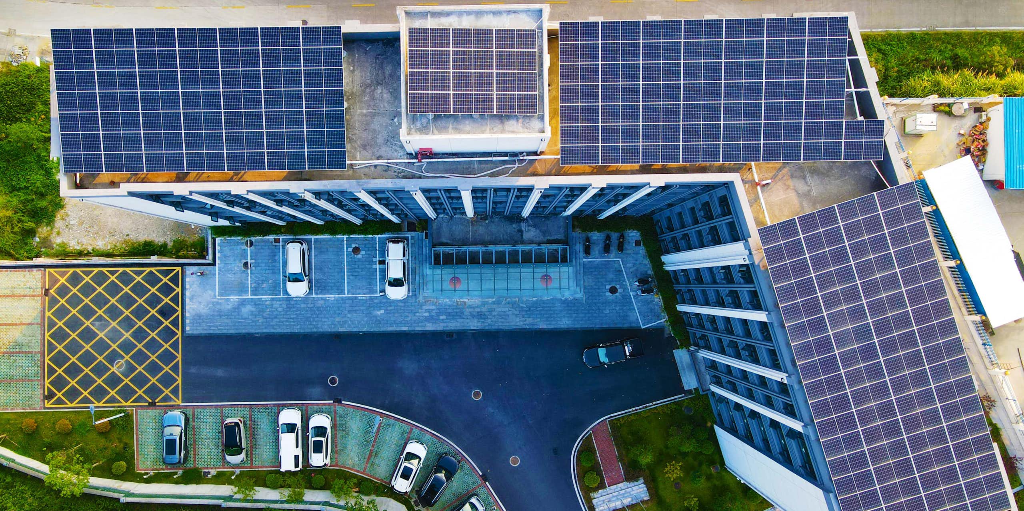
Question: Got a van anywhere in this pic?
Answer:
Yes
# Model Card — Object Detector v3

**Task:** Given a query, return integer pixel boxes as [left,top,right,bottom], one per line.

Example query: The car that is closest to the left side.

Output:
[161,408,193,468]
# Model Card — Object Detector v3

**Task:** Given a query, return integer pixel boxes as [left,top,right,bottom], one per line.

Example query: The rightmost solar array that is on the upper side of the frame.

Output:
[557,17,883,165]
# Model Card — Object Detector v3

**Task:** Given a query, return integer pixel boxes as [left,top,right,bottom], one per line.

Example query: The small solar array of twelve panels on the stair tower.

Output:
[407,27,538,115]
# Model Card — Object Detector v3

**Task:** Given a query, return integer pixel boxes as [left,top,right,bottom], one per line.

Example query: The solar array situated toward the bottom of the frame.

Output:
[757,182,1012,511]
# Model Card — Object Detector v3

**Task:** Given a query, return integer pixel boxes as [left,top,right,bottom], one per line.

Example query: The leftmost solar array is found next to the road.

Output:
[51,27,348,173]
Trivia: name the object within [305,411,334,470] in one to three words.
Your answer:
car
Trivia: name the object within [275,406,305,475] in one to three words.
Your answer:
van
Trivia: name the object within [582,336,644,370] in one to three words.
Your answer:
truck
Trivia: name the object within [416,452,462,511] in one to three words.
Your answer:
car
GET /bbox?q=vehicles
[383,238,410,301]
[161,408,193,468]
[634,276,654,286]
[305,411,334,470]
[389,440,430,499]
[618,232,626,252]
[284,239,312,297]
[275,406,305,475]
[582,336,644,370]
[416,452,462,511]
[221,415,249,465]
[605,234,615,254]
[584,236,594,256]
